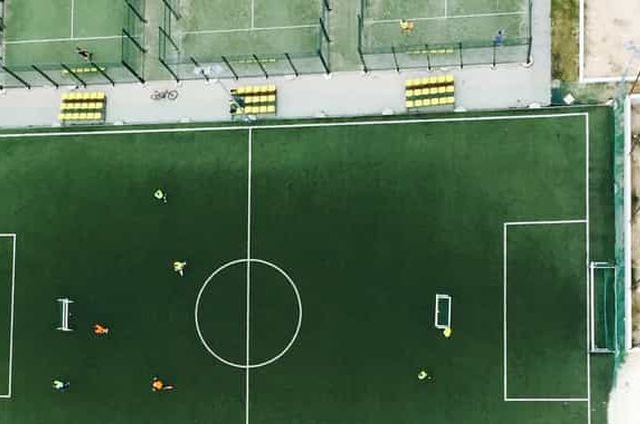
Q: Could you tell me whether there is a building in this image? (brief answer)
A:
No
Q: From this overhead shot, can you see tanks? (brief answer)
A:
No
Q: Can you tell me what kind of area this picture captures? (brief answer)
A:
sports ground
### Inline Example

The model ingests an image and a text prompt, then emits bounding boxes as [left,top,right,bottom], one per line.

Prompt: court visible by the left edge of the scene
[1,0,145,87]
